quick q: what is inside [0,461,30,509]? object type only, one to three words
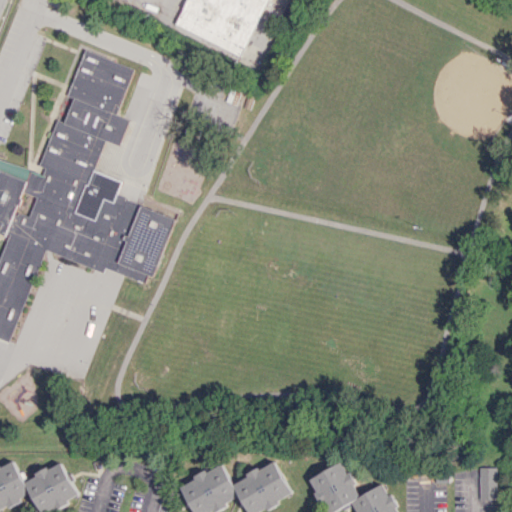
house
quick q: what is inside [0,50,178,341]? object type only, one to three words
building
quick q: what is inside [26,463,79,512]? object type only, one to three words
house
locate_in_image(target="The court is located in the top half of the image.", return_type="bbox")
[159,136,210,204]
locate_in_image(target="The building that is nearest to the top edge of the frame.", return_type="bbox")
[176,0,269,56]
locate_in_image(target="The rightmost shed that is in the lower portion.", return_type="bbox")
[480,468,498,503]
